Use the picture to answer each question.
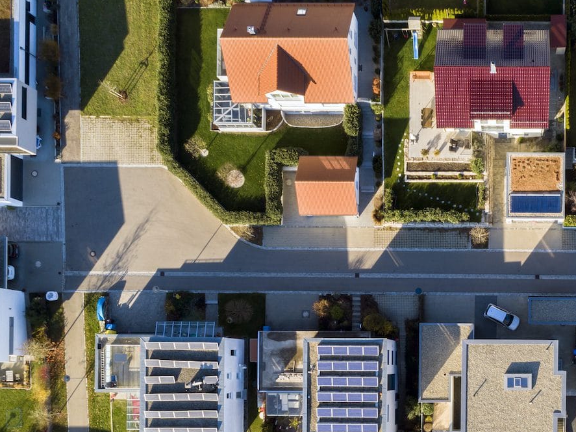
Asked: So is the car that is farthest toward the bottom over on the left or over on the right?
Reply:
right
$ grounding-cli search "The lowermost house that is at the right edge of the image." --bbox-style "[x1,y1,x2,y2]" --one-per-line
[419,323,567,432]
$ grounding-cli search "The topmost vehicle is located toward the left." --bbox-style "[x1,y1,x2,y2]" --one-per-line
[9,241,29,259]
